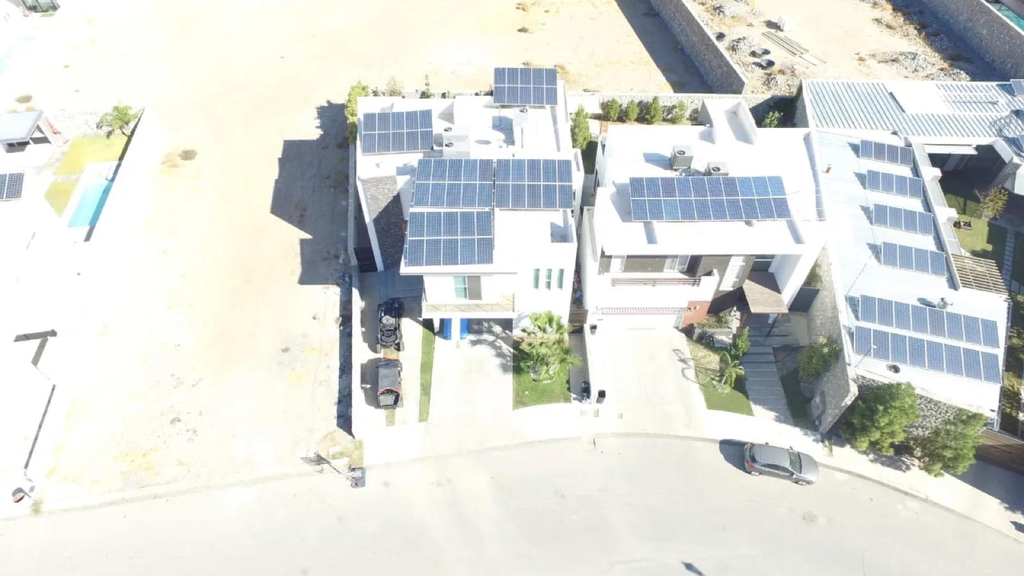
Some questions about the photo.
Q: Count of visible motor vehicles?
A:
3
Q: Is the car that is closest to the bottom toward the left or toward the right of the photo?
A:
right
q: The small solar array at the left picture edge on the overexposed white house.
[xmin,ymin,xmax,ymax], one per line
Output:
[0,173,27,200]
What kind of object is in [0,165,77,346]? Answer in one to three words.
house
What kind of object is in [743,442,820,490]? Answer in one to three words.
car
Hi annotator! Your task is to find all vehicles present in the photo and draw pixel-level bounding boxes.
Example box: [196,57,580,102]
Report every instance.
[371,358,406,413]
[743,442,820,490]
[371,300,405,351]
